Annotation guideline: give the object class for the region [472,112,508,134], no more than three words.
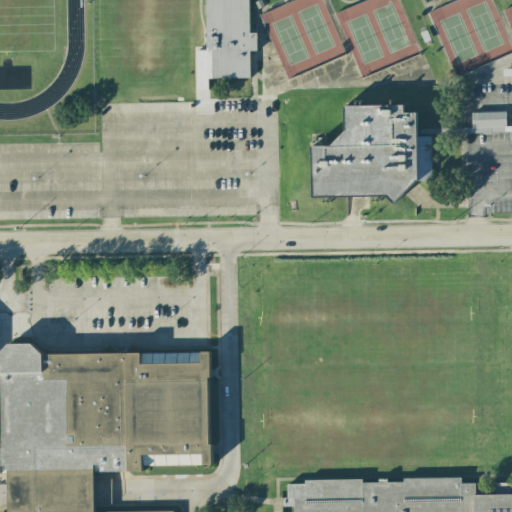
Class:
building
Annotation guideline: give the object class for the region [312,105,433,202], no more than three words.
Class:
building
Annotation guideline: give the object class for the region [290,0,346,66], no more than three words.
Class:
tennis court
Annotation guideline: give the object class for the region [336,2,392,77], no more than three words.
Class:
tennis court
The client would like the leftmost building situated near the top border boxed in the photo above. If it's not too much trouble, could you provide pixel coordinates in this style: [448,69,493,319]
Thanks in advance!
[206,0,259,78]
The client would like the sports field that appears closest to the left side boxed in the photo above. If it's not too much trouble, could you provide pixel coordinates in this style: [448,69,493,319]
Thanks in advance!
[0,0,56,52]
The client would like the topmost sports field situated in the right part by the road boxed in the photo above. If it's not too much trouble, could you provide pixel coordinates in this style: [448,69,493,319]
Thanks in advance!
[241,260,512,368]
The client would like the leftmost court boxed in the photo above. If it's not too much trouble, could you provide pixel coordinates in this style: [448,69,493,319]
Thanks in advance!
[262,3,318,78]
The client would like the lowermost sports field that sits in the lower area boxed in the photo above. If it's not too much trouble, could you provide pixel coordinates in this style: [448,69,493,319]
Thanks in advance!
[241,368,512,474]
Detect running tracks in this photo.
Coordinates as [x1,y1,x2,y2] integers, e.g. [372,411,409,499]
[0,0,86,120]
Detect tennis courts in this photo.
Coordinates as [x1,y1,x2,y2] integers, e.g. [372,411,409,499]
[430,1,486,76]
[336,2,392,77]
[364,0,420,64]
[458,0,512,64]
[290,0,346,66]
[262,3,318,78]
